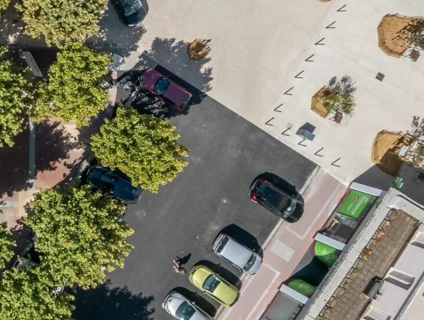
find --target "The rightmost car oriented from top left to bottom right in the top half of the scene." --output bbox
[132,63,199,116]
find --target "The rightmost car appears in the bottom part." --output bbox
[242,166,305,224]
